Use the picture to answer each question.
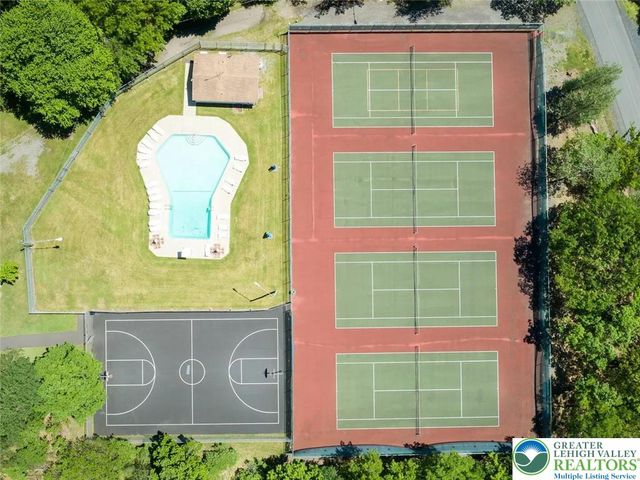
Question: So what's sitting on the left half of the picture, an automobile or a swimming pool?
swimming pool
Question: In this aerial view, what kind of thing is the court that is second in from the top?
tennis court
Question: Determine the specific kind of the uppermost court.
tennis court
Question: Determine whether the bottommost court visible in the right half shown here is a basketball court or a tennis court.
tennis court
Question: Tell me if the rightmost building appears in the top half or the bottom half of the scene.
top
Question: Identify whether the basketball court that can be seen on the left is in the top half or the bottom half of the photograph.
bottom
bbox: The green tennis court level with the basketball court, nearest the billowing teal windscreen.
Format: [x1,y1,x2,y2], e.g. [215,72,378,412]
[336,352,499,429]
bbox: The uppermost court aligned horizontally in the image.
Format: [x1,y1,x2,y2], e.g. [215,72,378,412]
[332,52,494,127]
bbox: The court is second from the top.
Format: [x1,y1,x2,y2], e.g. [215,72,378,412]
[334,152,495,227]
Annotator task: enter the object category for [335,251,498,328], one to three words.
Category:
tennis court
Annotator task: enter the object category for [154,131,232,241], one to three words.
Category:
swimming pool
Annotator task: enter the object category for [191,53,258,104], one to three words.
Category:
building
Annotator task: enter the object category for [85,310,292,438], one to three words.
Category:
basketball court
